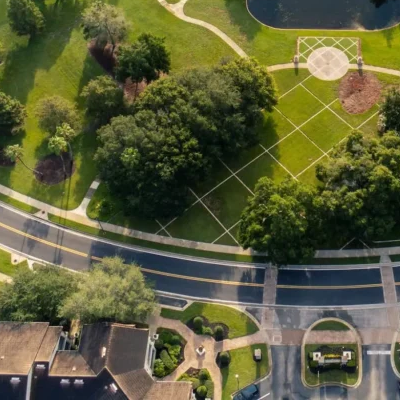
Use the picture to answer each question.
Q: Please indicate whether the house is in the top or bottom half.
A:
bottom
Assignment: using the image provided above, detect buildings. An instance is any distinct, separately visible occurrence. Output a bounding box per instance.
[0,322,194,400]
